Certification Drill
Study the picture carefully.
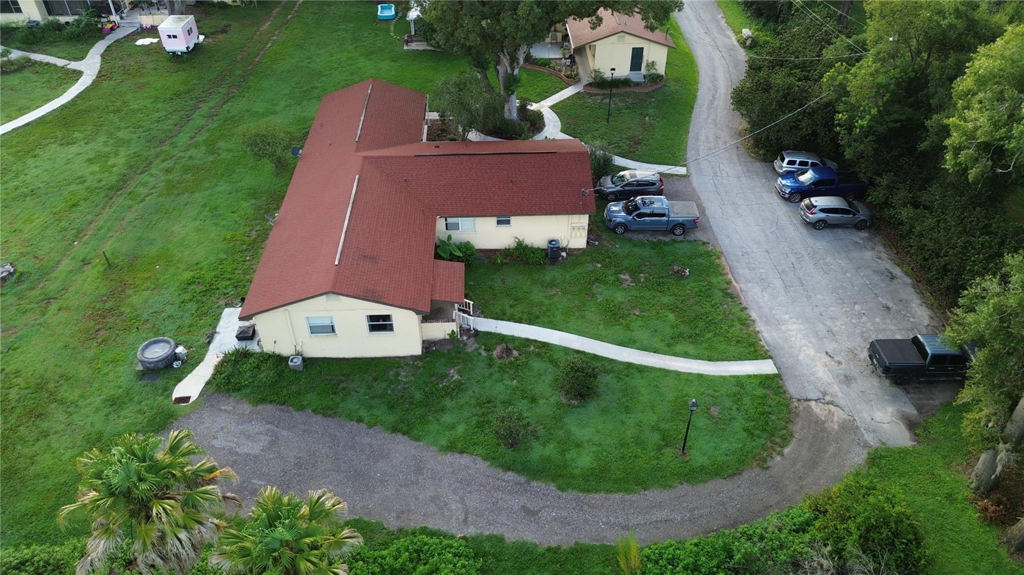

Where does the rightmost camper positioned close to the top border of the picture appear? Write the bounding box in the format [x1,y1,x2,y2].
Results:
[157,15,206,53]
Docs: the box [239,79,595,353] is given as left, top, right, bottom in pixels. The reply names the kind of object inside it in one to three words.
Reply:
house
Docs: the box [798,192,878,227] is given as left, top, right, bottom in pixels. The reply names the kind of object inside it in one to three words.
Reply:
car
